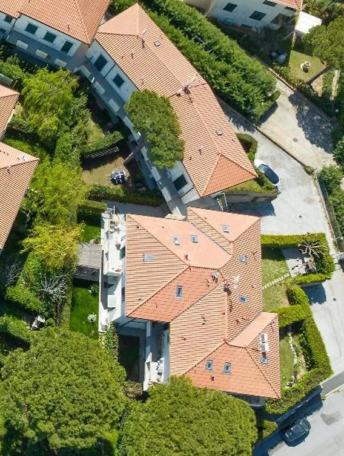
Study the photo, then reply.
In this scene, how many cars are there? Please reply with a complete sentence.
The photo contains 2 cars.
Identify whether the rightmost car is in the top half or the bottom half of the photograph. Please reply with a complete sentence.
It is in the bottom half that the rightmost car appears.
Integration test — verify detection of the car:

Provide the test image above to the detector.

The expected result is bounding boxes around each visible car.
[276,419,313,446]
[252,159,285,192]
